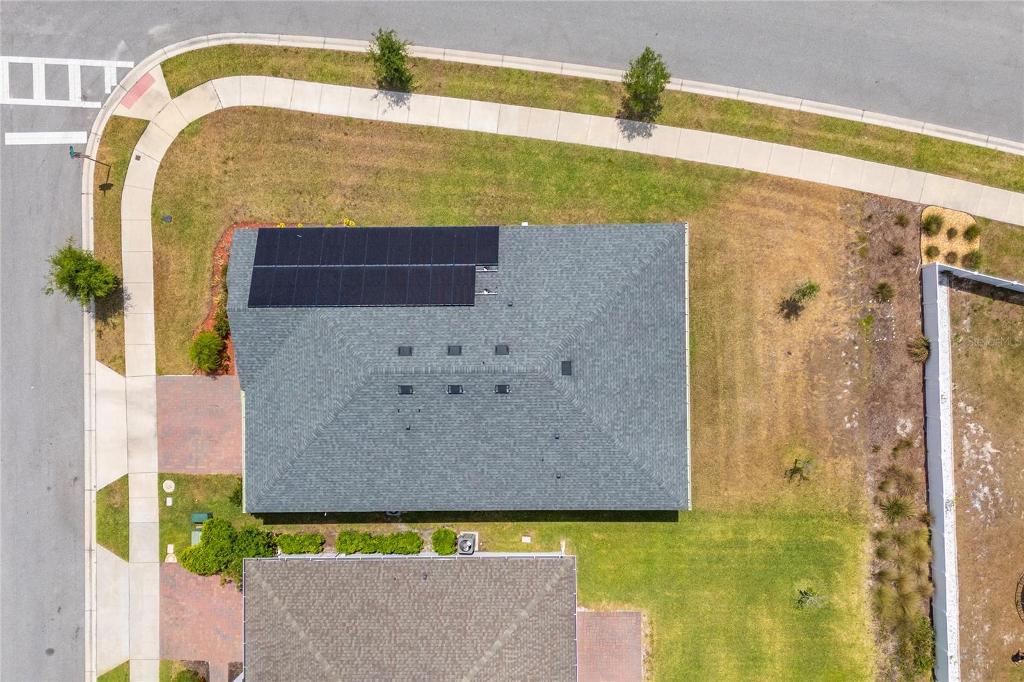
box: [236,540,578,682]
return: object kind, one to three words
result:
house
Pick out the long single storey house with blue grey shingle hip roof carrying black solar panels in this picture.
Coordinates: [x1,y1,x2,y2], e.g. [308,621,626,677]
[224,223,693,514]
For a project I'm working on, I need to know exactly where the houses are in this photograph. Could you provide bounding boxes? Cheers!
[236,540,578,682]
[224,223,693,514]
